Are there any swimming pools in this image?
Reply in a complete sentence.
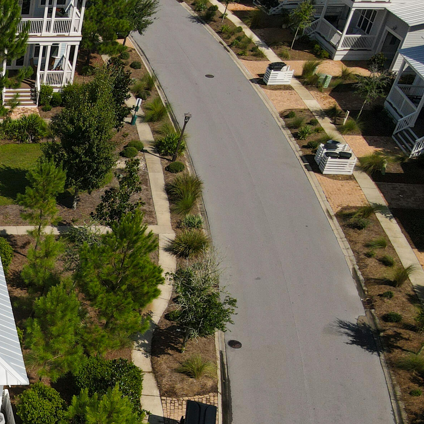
No, there appears to be no swimming pool in this shot.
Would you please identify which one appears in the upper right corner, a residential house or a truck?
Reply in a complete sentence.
The one visible in the upper right corner is a residential house.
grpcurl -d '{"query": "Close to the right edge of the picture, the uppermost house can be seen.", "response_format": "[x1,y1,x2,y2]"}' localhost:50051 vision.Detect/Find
[289,0,424,70]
